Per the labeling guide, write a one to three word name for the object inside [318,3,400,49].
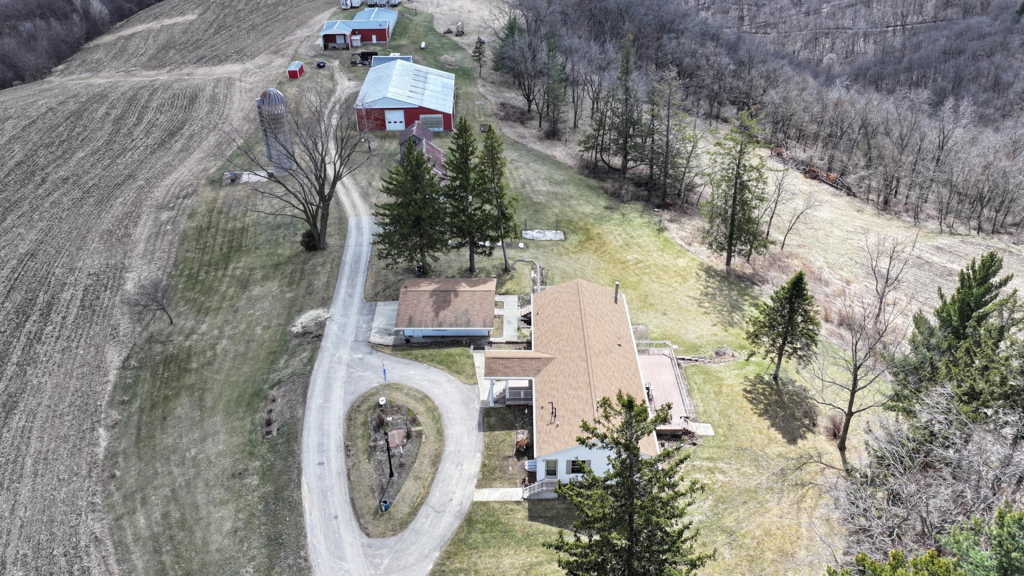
building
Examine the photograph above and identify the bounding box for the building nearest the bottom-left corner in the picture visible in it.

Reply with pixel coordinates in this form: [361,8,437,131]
[394,277,496,337]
